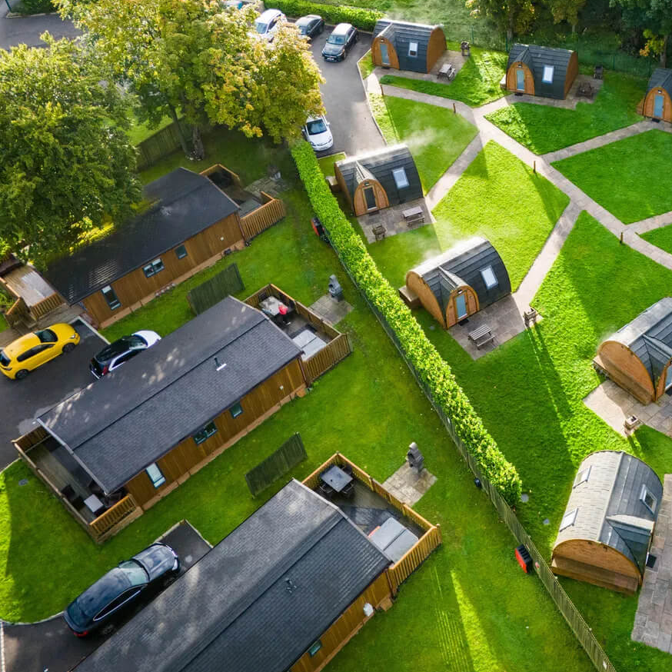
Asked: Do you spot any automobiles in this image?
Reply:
Yes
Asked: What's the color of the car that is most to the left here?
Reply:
yellow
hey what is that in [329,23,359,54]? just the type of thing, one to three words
car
